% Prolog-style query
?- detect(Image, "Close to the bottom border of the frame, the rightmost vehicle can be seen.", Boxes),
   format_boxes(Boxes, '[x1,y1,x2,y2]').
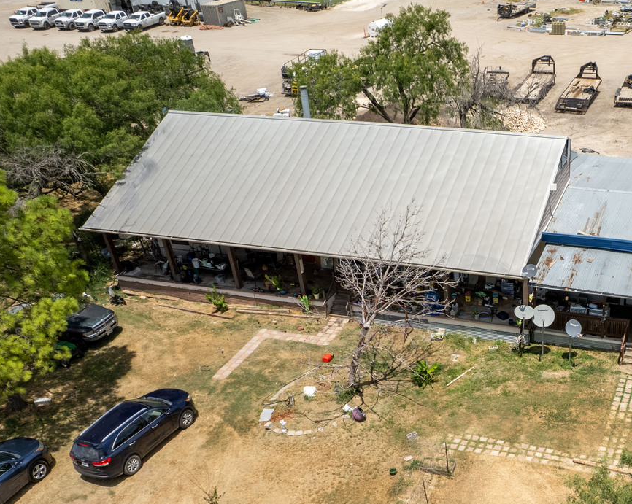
[67,391,196,483]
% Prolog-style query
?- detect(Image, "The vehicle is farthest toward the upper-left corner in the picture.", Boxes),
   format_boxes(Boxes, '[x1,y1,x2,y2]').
[8,5,45,27]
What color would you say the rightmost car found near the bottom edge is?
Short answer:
black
